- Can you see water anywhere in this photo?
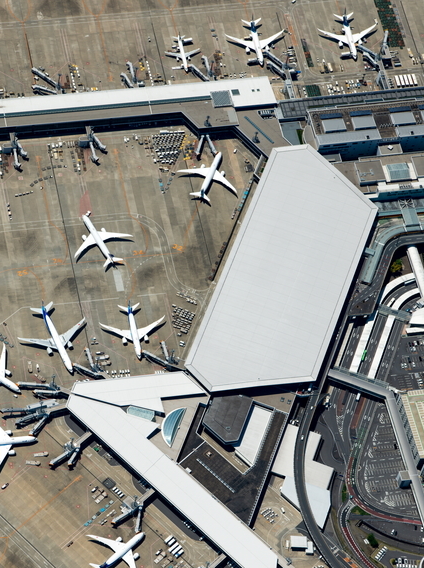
No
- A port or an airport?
airport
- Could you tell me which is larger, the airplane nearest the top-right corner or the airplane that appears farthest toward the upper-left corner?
the airplane nearest the top-right corner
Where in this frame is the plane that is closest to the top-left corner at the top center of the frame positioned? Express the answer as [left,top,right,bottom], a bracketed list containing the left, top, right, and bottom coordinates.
[166,38,200,70]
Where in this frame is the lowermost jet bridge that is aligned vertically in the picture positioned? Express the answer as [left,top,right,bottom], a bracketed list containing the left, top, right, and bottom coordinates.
[130,505,144,532]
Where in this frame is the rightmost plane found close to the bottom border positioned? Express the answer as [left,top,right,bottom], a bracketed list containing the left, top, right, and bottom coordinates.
[87,533,146,568]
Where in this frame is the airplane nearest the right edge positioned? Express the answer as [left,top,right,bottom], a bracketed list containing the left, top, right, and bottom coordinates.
[319,10,377,59]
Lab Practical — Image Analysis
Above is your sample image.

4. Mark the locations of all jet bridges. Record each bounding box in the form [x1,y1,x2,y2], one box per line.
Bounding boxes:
[380,31,390,55]
[121,73,136,88]
[18,381,59,389]
[50,443,80,467]
[16,410,48,426]
[27,413,50,436]
[111,505,141,524]
[205,132,219,155]
[86,141,98,161]
[130,505,144,532]
[262,50,287,70]
[34,388,63,397]
[267,62,287,79]
[1,400,62,414]
[9,153,20,167]
[160,341,171,363]
[142,349,174,371]
[14,137,27,156]
[84,347,96,372]
[92,132,106,152]
[32,84,60,95]
[202,58,212,77]
[362,53,380,70]
[73,363,98,379]
[127,62,138,81]
[192,132,205,155]
[32,68,61,90]
[188,64,210,81]
[358,45,382,63]
[64,446,81,466]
